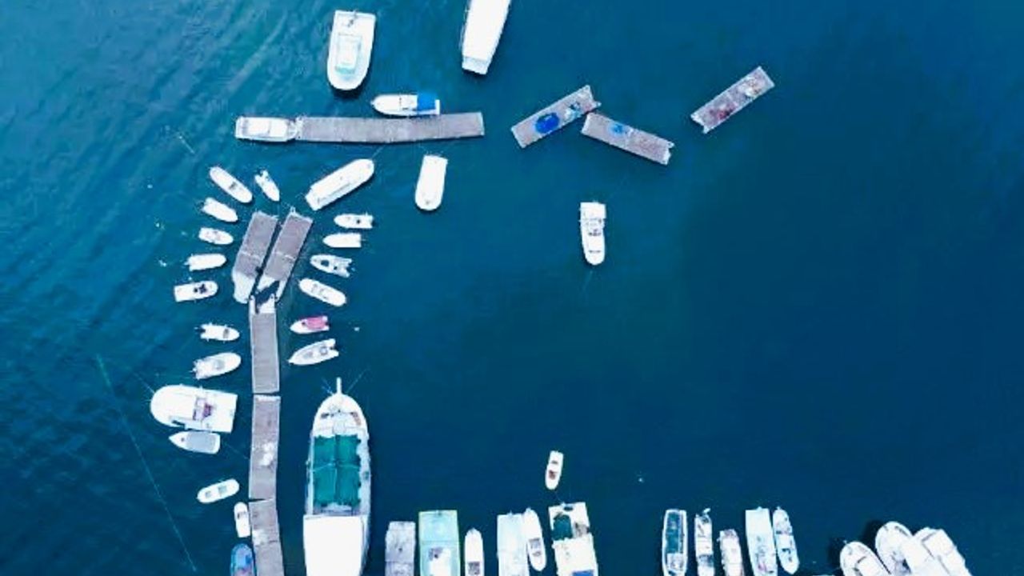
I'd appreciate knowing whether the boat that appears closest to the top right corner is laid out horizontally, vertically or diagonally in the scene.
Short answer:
vertically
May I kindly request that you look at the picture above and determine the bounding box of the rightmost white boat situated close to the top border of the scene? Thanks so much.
[461,0,512,82]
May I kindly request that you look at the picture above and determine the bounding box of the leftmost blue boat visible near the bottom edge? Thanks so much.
[231,544,258,576]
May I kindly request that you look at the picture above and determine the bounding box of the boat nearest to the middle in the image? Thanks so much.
[579,197,607,265]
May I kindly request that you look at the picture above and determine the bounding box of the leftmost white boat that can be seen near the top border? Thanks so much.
[325,5,375,89]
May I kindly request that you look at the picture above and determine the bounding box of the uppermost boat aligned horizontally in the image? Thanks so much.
[372,93,445,116]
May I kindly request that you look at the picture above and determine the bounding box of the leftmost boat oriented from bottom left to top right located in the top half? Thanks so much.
[302,158,374,212]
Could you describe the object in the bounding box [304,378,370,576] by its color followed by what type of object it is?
white boat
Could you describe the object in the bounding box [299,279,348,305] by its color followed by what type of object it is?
white boat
